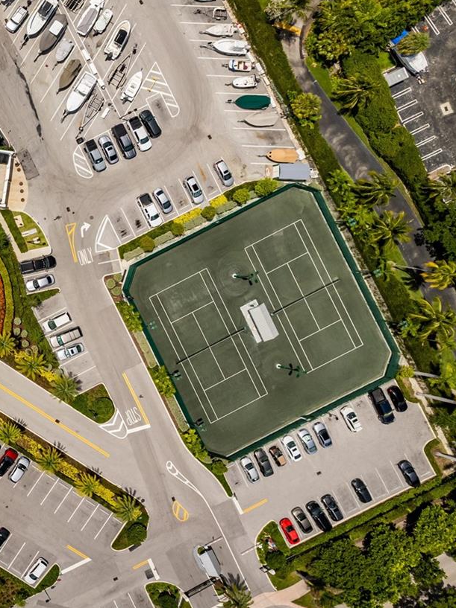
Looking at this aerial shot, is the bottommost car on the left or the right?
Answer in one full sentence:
The bottommost car sits on the left side.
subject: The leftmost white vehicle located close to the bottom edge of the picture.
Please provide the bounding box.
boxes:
[26,556,48,586]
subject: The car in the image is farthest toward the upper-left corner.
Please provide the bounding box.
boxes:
[6,5,27,33]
